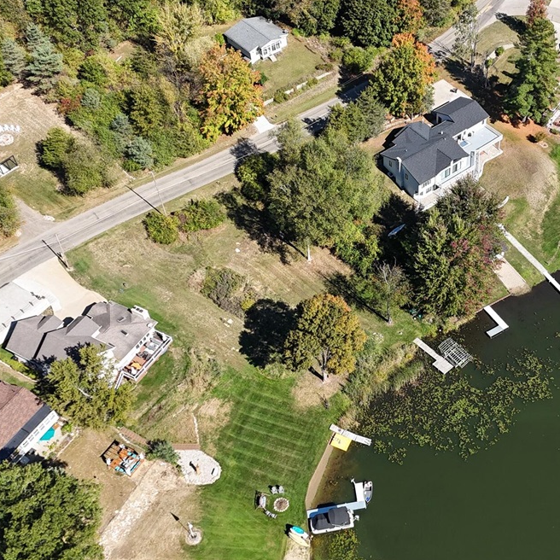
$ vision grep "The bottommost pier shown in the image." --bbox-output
[306,481,367,516]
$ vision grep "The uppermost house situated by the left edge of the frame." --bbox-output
[6,301,175,389]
